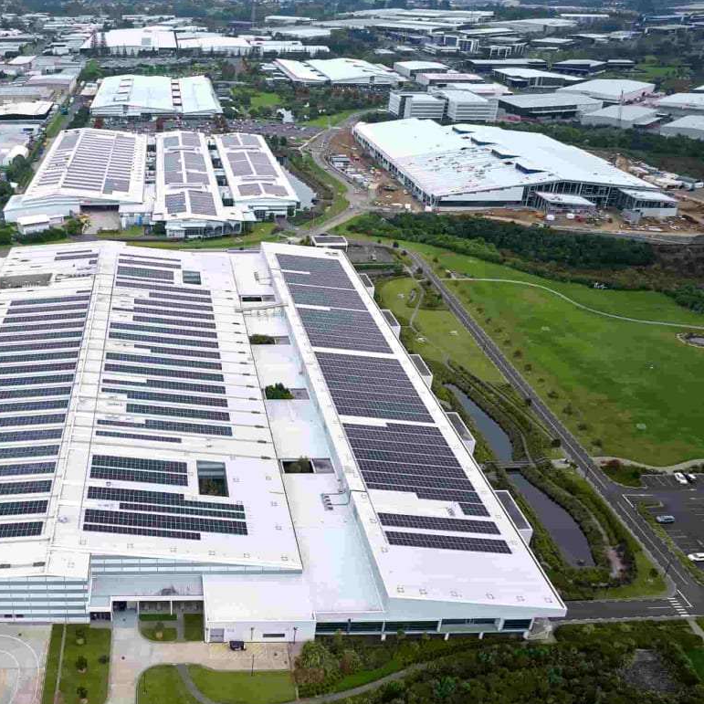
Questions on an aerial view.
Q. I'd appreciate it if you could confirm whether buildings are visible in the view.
Yes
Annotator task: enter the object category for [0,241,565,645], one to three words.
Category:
building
